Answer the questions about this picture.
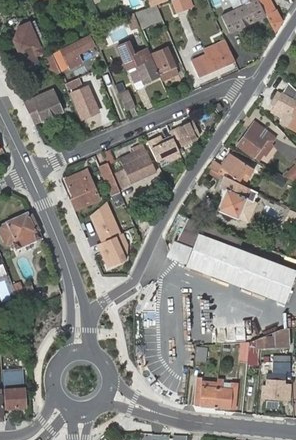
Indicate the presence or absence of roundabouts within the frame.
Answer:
Yes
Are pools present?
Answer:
Yes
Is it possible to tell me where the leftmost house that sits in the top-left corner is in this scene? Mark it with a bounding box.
[14,20,42,64]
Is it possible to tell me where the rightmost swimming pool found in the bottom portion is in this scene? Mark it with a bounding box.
[16,254,36,281]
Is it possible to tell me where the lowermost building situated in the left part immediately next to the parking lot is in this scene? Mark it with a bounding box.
[98,234,131,272]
